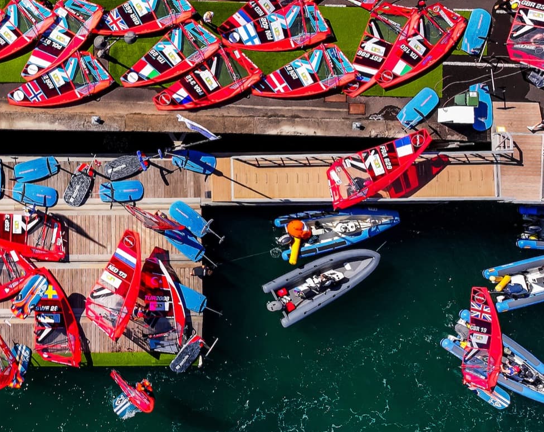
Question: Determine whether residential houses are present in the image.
No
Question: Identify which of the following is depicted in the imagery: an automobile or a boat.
boat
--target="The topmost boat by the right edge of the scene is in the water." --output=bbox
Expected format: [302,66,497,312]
[505,206,544,247]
